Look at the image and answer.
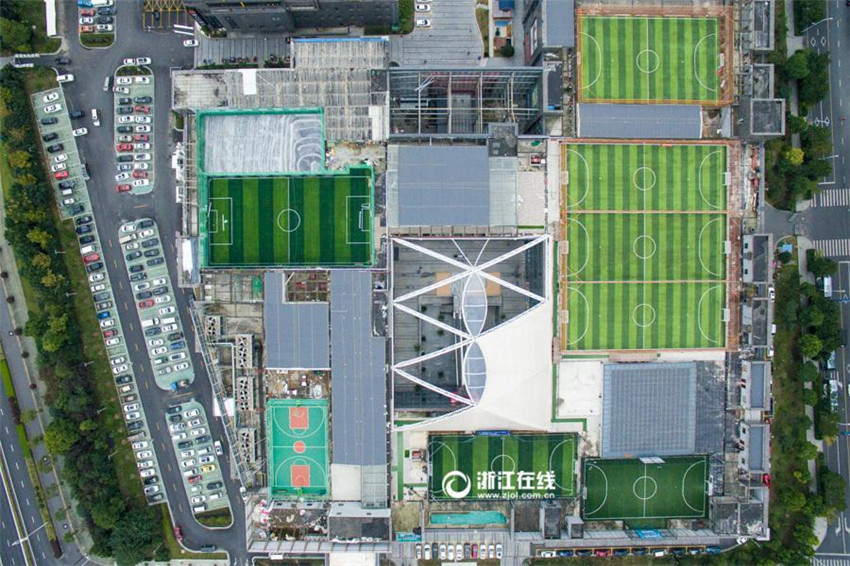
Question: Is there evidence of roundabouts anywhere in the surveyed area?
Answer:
No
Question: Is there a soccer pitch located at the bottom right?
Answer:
Yes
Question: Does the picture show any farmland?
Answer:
No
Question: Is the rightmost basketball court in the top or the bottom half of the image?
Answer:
bottom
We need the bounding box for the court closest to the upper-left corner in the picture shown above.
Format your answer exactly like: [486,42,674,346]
[197,115,324,172]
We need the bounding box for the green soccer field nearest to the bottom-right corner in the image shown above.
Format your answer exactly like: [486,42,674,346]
[582,457,710,520]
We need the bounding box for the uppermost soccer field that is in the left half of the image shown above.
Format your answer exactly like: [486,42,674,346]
[203,165,369,266]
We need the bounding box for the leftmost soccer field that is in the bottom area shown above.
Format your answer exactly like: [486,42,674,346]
[429,434,577,500]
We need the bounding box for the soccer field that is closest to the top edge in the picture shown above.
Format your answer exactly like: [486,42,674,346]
[580,17,719,101]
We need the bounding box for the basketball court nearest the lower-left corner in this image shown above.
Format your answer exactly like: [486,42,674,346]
[271,403,328,490]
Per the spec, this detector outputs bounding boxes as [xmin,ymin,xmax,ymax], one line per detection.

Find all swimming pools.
[428,509,509,527]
